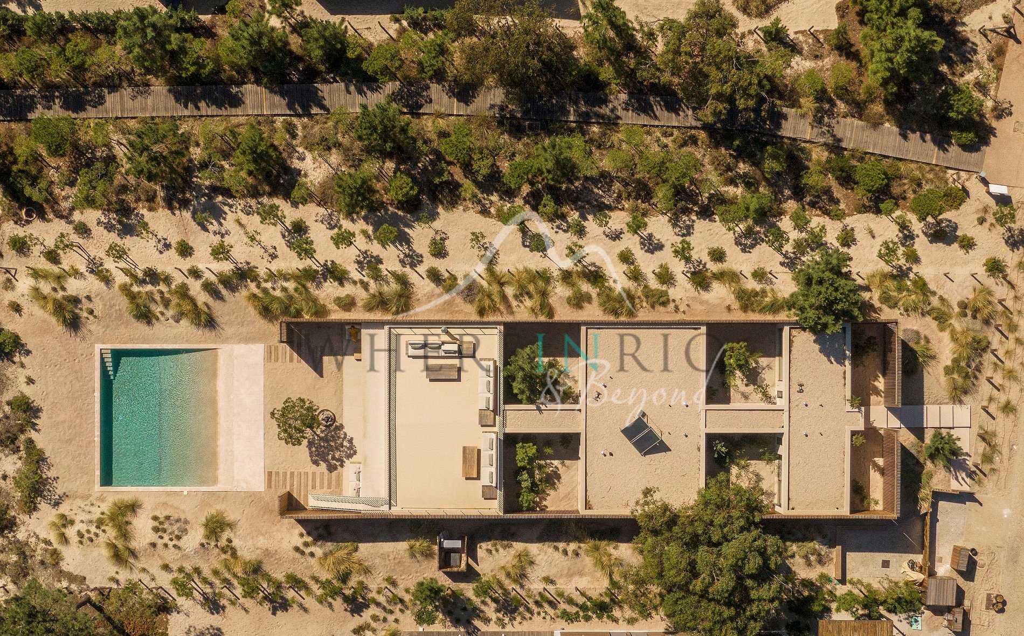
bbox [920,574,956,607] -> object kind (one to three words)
shed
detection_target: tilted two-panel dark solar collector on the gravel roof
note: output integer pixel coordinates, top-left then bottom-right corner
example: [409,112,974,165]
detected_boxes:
[620,408,661,455]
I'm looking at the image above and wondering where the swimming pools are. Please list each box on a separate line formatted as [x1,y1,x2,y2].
[96,345,264,491]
